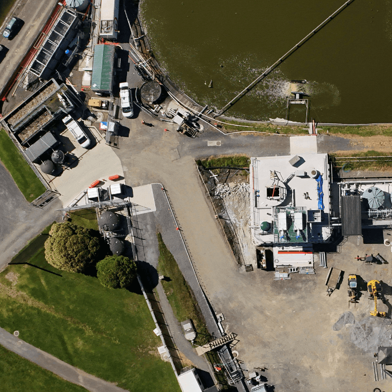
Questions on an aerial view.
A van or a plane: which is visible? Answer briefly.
van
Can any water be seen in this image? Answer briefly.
Yes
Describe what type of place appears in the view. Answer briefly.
industrial area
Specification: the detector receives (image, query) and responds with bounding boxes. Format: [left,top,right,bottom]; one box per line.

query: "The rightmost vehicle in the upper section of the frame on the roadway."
[117,83,134,118]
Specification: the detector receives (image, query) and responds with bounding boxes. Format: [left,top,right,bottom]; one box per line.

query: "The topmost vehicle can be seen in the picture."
[2,14,20,41]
